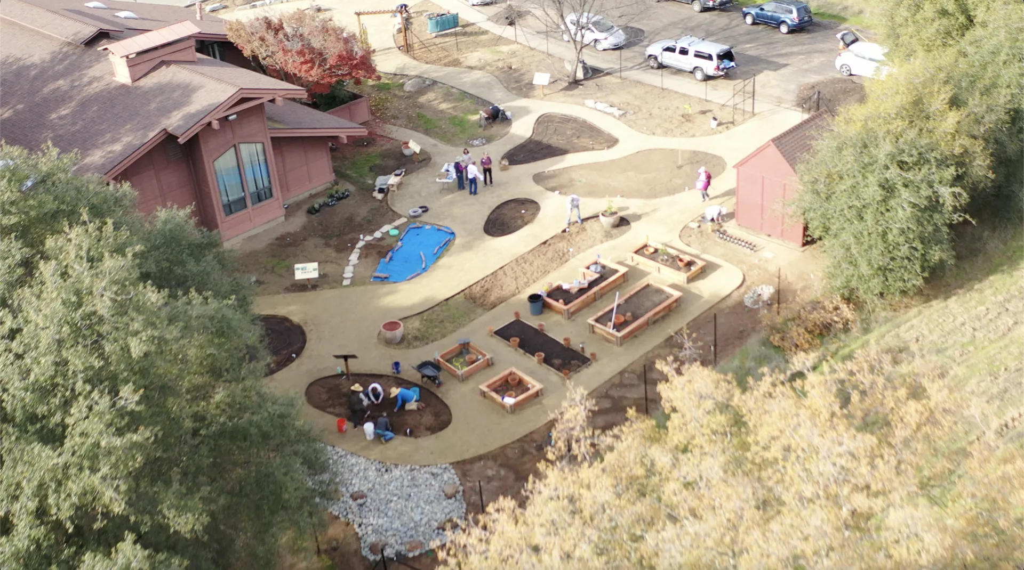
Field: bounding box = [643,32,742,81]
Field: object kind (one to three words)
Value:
truck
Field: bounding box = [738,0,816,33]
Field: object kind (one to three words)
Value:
car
